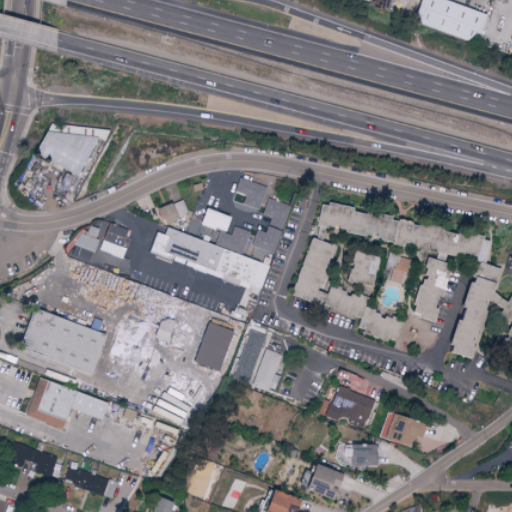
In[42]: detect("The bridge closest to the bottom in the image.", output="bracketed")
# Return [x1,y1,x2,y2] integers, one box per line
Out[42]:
[0,12,58,54]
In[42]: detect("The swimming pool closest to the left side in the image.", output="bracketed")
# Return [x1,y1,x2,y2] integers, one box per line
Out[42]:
[254,451,270,472]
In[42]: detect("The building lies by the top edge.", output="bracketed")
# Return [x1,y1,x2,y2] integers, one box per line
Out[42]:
[420,0,490,40]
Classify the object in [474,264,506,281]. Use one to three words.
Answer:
building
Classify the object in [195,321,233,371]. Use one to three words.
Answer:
shed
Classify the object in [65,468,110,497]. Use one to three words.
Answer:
house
